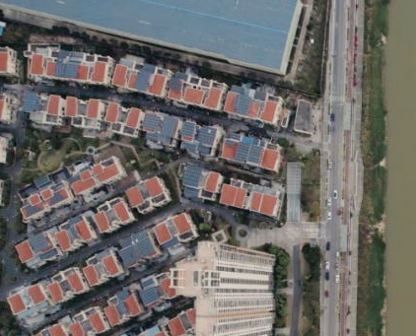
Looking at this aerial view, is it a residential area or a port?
residential area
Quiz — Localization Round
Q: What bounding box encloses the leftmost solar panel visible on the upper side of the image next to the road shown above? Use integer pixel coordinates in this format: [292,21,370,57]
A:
[22,91,40,111]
